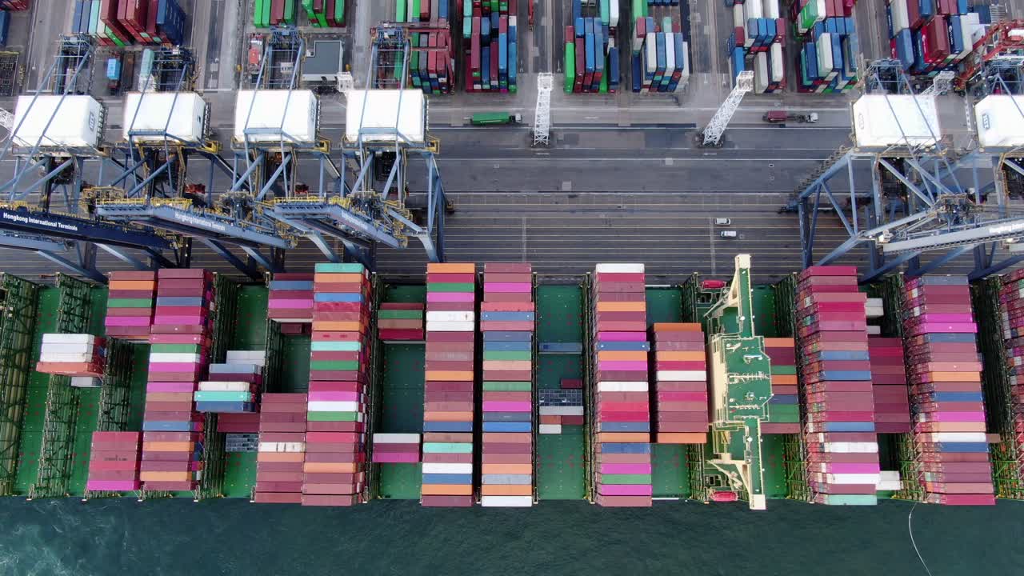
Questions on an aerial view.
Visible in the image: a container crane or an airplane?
container crane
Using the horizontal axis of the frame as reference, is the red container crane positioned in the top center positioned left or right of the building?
right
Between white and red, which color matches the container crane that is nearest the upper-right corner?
red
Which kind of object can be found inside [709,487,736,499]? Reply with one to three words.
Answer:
boat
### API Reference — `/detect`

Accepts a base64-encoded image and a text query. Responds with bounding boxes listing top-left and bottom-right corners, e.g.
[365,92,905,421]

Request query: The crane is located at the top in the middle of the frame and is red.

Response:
[394,27,454,89]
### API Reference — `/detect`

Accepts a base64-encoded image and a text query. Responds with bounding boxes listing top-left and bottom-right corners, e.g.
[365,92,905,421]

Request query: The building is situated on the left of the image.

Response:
[302,40,344,80]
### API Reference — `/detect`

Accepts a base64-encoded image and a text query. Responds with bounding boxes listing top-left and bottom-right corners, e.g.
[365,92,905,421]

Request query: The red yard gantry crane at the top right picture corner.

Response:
[956,17,1024,84]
